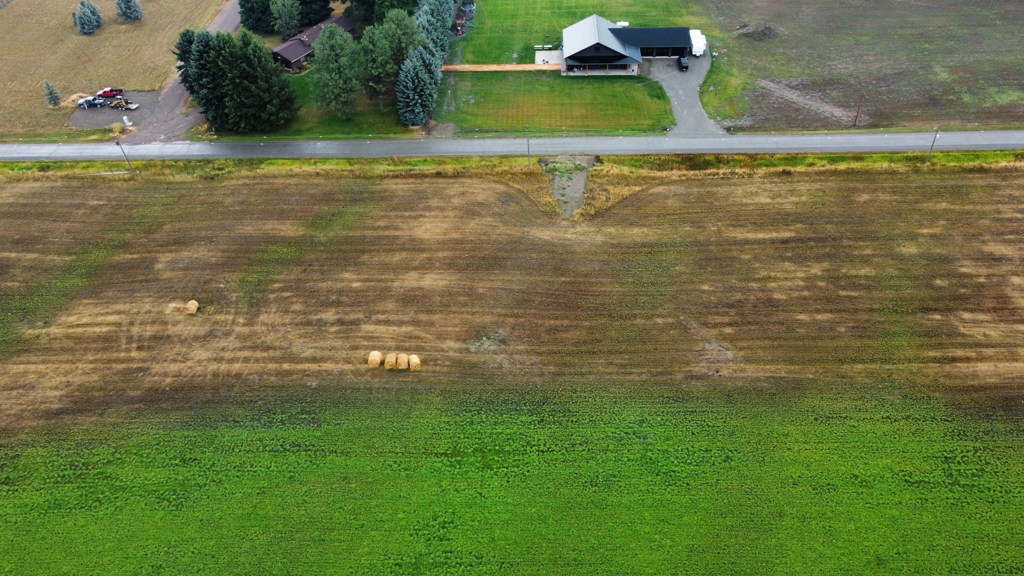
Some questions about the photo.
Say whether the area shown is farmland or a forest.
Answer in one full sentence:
It's farmland.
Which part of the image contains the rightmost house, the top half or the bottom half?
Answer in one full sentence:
It is in the top half that the rightmost house appears.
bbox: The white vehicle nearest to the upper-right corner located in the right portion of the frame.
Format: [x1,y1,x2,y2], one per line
[689,30,707,59]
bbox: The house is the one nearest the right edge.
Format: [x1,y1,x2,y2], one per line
[563,14,693,75]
